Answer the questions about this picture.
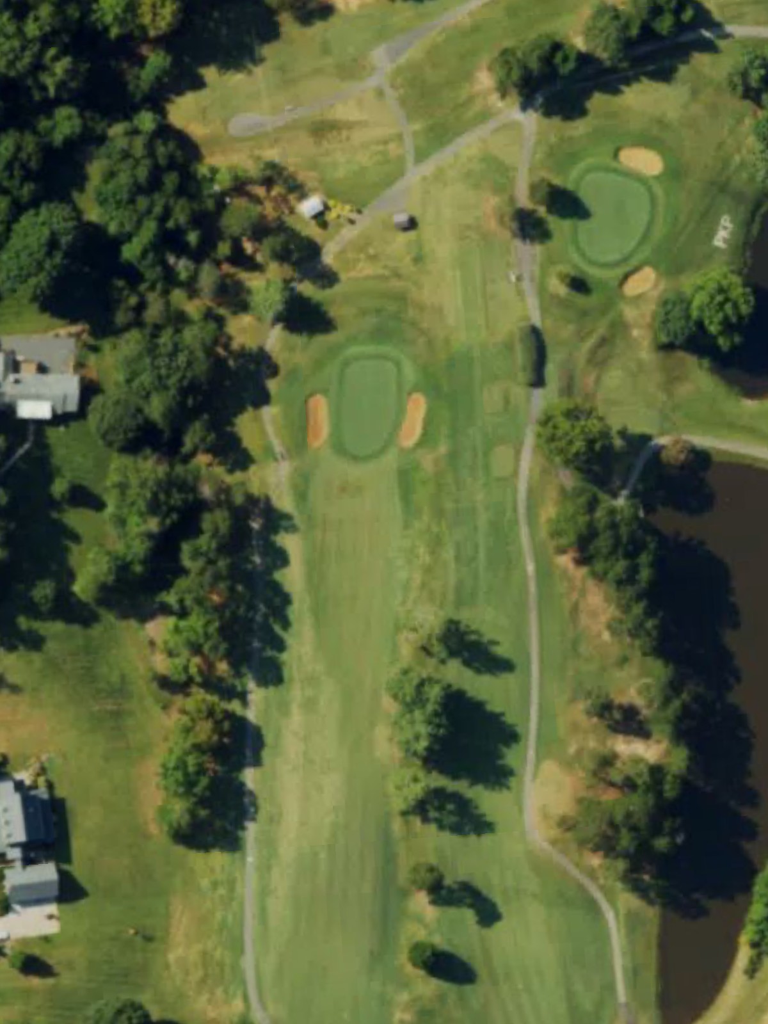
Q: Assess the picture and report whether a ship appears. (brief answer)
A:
No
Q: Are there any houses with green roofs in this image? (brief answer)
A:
No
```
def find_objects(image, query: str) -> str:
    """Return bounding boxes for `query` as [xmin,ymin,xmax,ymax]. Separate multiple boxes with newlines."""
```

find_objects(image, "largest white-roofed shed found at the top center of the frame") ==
[298,193,326,219]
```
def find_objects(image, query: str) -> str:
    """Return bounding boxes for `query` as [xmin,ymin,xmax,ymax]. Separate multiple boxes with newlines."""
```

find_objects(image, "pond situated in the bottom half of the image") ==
[644,463,768,1024]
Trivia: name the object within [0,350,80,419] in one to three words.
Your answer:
house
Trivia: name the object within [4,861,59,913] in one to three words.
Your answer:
building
